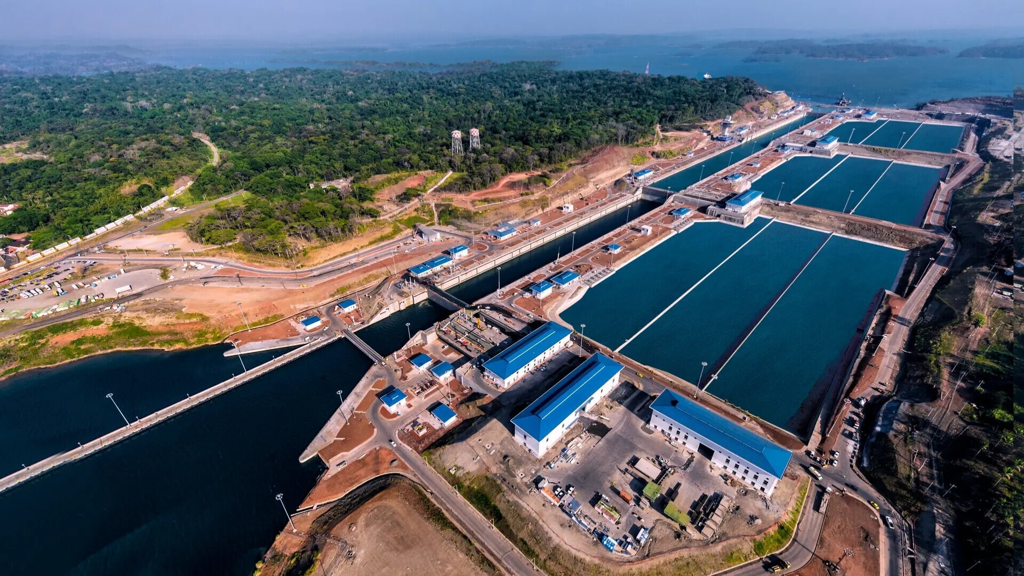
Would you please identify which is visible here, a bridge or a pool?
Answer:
bridge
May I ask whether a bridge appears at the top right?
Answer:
No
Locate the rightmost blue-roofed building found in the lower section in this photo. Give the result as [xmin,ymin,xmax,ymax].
[649,388,793,489]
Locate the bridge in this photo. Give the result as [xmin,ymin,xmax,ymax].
[340,327,390,364]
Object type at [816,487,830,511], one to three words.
vehicle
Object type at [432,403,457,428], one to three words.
building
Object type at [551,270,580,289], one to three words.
building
